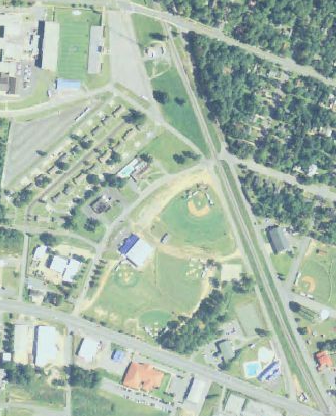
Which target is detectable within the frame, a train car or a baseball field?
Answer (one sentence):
It is a baseball field that can be seen here.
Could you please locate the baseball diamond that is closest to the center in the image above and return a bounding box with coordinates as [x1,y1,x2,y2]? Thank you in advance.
[157,186,237,255]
